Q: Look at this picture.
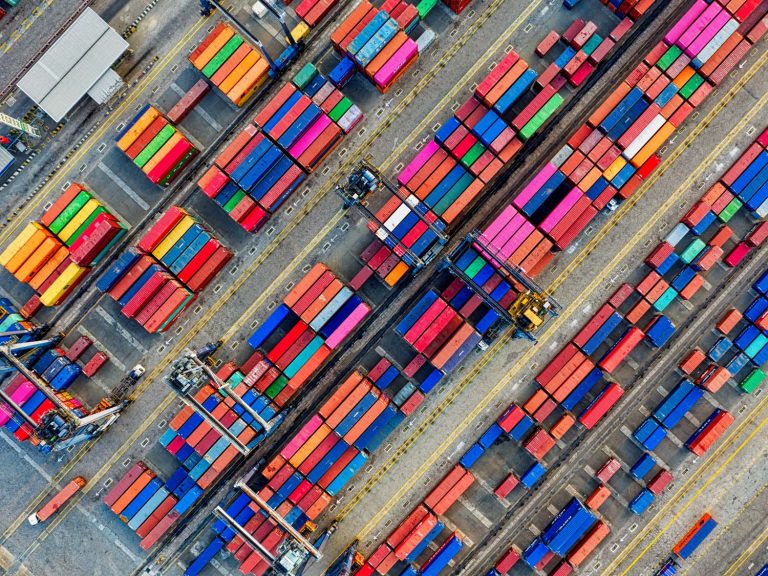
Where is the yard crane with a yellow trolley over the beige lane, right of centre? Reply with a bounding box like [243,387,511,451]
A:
[435,224,567,344]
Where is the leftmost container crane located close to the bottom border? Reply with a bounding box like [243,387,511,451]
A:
[211,452,337,576]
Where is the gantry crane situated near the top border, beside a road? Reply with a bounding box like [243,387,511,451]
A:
[196,0,304,83]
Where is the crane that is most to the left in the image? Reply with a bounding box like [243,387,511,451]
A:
[0,314,58,352]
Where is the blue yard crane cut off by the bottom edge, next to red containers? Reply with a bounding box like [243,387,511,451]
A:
[322,538,370,576]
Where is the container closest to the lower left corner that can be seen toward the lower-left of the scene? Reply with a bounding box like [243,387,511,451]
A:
[37,475,86,520]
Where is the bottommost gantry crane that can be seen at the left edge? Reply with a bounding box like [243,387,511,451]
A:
[0,334,133,454]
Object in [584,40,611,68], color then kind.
red shipping container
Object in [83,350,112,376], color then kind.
red shipping container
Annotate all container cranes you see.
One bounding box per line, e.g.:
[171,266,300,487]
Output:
[0,334,133,454]
[322,538,370,576]
[211,452,337,576]
[339,157,455,275]
[435,224,567,344]
[0,314,58,352]
[196,0,304,83]
[161,338,291,458]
